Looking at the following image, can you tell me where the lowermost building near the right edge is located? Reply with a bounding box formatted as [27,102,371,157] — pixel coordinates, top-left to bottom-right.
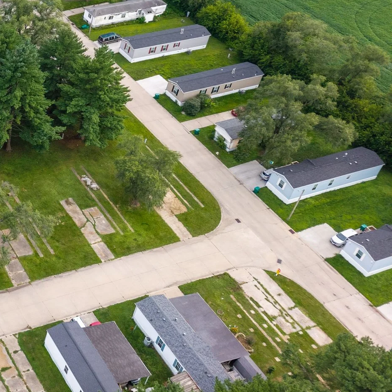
[340,223,392,276]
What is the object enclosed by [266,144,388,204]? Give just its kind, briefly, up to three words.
house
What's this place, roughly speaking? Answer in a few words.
residential area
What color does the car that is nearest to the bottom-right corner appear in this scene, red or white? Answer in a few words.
white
